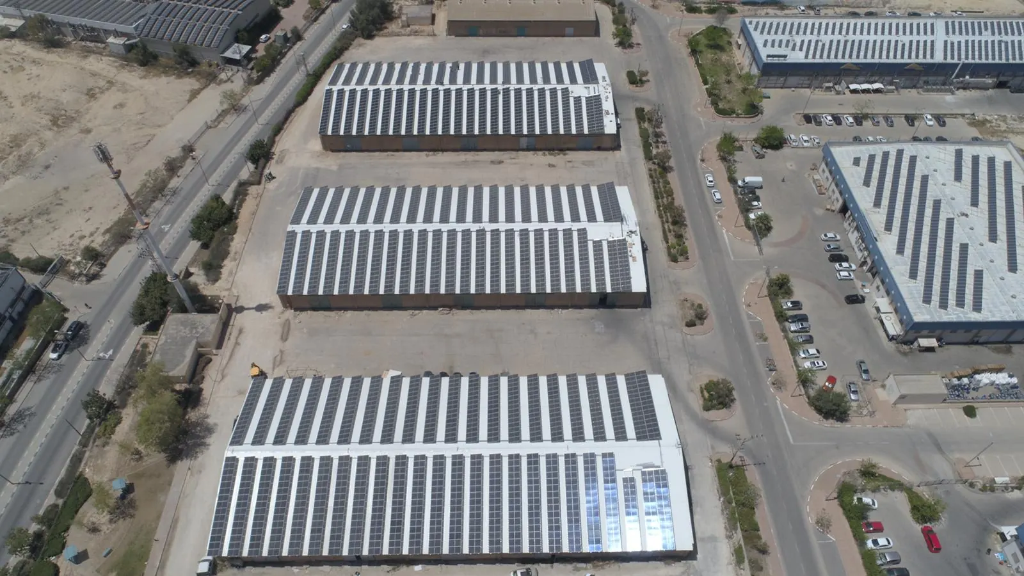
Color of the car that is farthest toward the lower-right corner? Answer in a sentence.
The color of the car that is farthest toward the lower-right corner is red.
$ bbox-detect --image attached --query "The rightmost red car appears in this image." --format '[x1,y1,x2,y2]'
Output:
[920,526,945,554]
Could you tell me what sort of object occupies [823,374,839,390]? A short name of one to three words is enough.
car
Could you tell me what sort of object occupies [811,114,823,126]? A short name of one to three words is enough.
vehicle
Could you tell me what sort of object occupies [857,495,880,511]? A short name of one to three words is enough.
car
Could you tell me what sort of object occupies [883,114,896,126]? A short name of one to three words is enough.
vehicle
